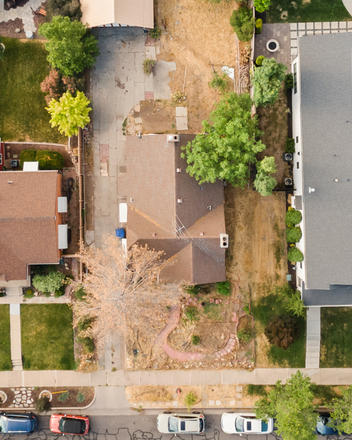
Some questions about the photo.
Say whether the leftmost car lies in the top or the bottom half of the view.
bottom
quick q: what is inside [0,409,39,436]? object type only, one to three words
car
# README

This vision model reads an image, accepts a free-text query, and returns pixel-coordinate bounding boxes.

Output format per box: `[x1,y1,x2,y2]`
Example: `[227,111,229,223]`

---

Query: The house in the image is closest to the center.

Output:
[118,134,228,284]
